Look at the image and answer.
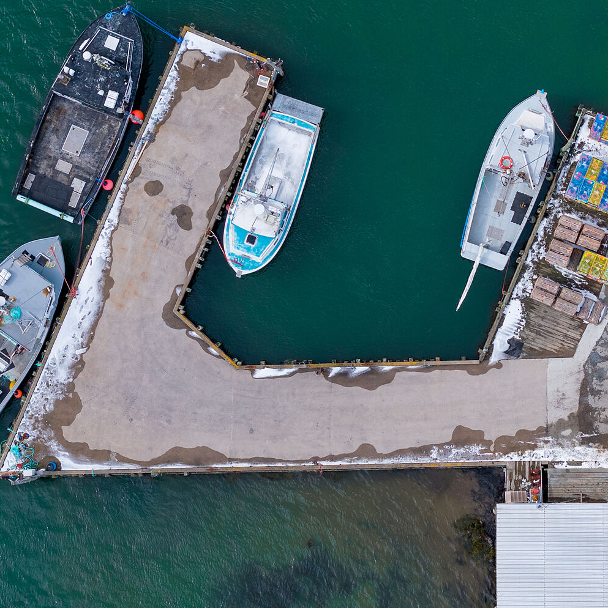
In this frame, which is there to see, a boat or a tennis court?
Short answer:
boat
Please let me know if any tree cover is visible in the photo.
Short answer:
No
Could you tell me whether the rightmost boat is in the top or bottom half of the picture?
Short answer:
top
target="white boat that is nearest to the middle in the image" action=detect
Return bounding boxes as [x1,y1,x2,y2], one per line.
[223,93,325,278]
